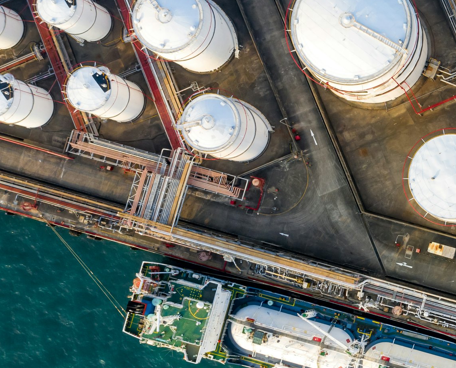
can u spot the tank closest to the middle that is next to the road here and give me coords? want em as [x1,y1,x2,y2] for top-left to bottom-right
[174,89,275,164]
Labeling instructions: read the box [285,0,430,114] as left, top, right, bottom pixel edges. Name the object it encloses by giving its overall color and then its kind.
white storage tank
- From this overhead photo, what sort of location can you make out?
industrial area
